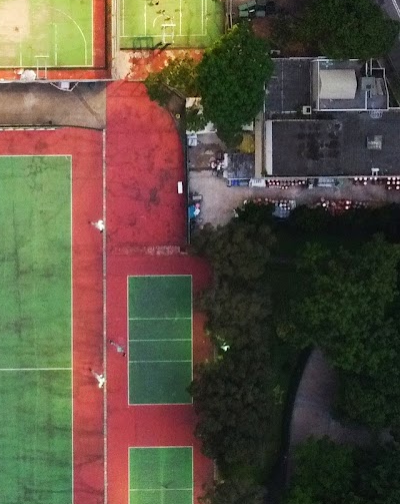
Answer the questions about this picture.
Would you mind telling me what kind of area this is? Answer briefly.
sports ground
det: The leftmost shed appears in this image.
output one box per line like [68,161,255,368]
[220,153,251,180]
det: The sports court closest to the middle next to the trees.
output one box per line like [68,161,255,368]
[128,274,193,405]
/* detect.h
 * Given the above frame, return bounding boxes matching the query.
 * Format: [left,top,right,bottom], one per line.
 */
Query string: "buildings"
[220,153,251,180]
[256,57,400,178]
